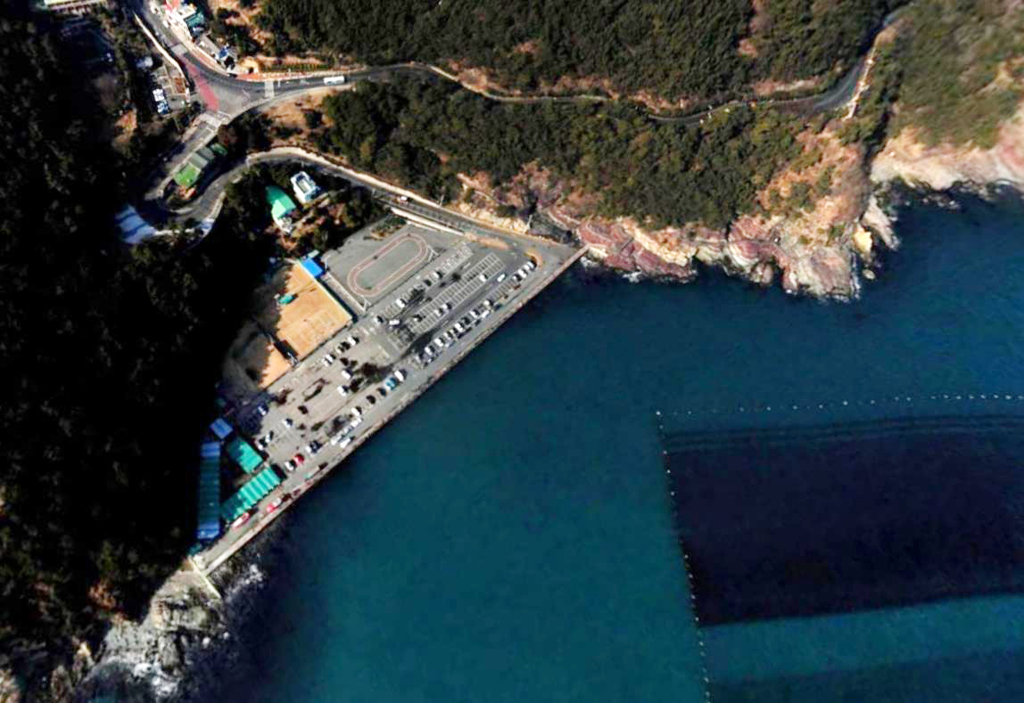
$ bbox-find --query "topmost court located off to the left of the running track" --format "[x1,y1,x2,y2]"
[257,258,350,356]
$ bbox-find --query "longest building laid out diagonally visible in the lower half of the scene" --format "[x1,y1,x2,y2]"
[221,467,281,524]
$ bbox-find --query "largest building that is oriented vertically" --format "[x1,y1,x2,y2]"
[197,442,221,543]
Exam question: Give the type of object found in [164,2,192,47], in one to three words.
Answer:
building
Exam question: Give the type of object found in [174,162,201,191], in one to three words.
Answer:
building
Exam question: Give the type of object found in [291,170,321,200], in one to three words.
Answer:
house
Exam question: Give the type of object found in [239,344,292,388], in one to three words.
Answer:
sports court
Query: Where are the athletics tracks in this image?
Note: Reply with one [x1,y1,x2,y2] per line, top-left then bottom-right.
[348,232,428,297]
